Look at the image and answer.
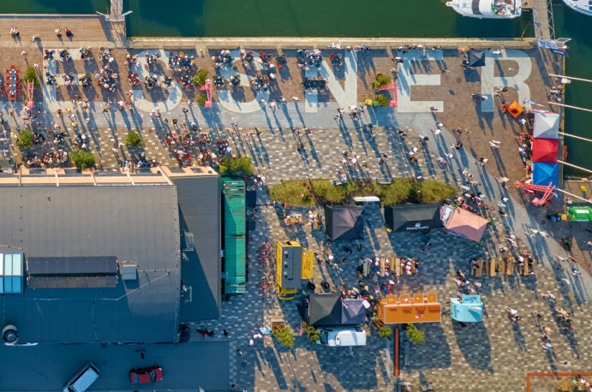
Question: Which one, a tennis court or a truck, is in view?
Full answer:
The image shows a truck.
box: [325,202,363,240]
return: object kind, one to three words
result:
tent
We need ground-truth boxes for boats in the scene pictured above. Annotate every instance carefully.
[563,0,592,18]
[447,0,520,18]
